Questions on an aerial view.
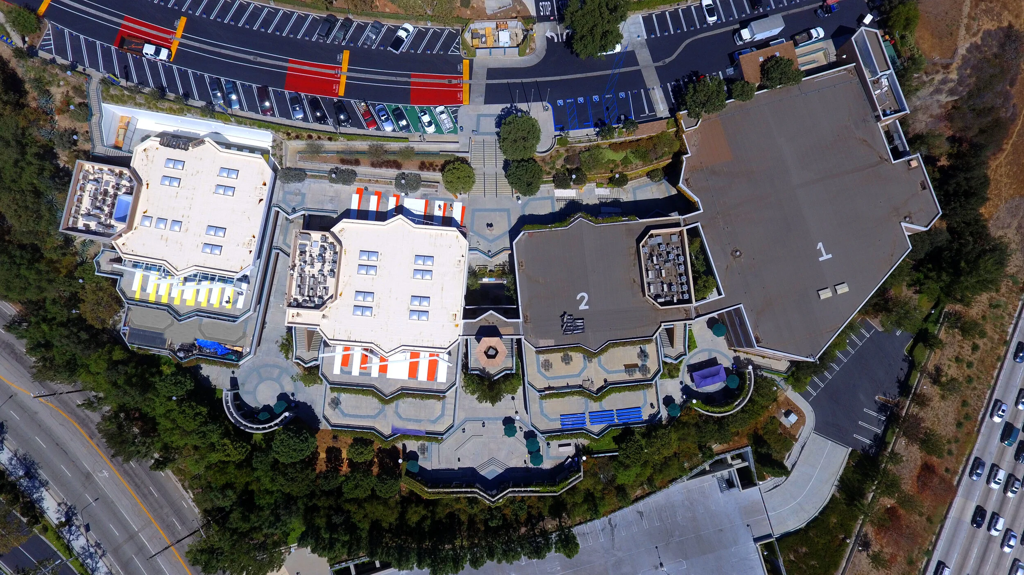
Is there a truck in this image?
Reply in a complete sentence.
Yes, this view includes a truck.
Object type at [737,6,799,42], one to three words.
truck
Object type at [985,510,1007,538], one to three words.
car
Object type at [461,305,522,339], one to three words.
building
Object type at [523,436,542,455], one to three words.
umbrella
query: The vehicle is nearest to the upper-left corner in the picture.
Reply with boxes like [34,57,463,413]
[115,32,171,61]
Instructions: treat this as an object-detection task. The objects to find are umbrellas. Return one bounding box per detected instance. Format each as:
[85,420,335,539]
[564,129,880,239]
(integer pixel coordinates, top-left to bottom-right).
[402,457,422,477]
[723,372,743,392]
[665,400,683,419]
[270,397,289,416]
[526,451,546,469]
[523,436,542,455]
[257,407,273,424]
[501,421,520,440]
[709,320,727,340]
